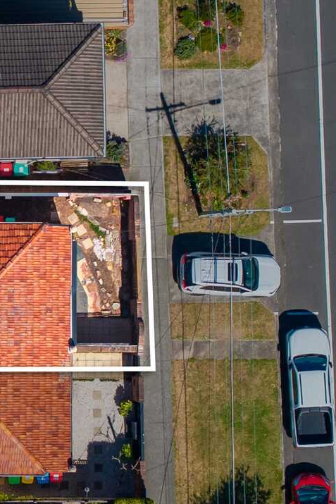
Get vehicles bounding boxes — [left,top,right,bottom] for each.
[176,250,281,299]
[284,325,336,447]
[291,471,336,504]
